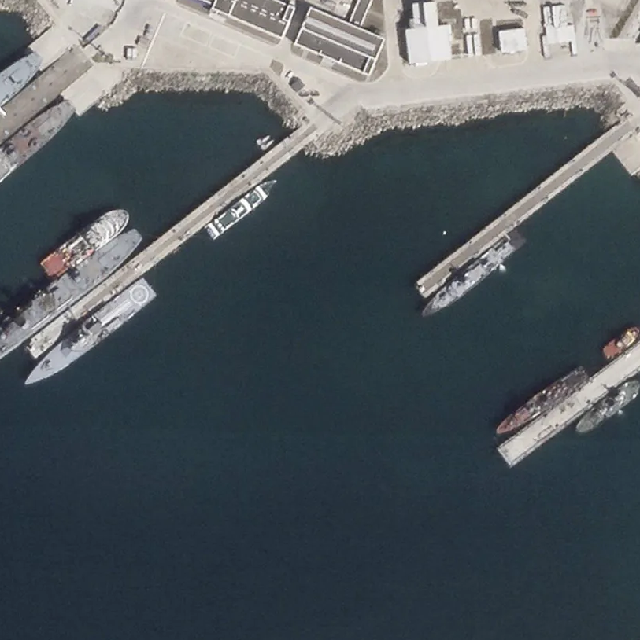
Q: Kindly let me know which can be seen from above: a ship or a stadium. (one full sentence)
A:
Visible in the photo is a ship.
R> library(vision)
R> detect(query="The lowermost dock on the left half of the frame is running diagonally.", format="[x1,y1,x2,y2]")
[27,125,317,360]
